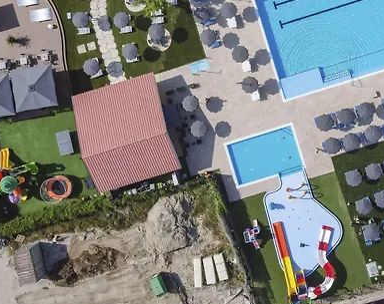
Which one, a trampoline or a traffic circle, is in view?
trampoline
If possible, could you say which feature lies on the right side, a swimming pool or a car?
swimming pool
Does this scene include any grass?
Yes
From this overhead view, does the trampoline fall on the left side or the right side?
left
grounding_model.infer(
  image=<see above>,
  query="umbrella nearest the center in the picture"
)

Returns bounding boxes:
[191,120,209,139]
